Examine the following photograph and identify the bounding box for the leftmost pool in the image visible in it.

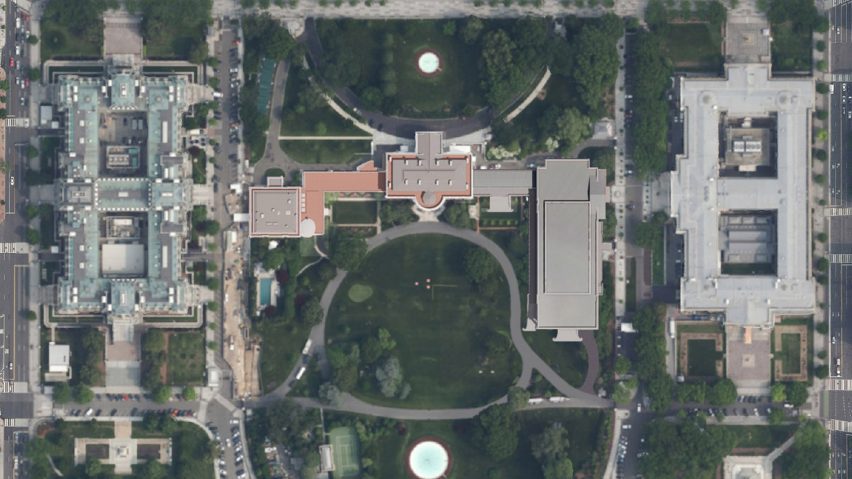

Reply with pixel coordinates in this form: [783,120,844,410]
[255,264,277,305]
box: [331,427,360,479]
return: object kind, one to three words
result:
tennis court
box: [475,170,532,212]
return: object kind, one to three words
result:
building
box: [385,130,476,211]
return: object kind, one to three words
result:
house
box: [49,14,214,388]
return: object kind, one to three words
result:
building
